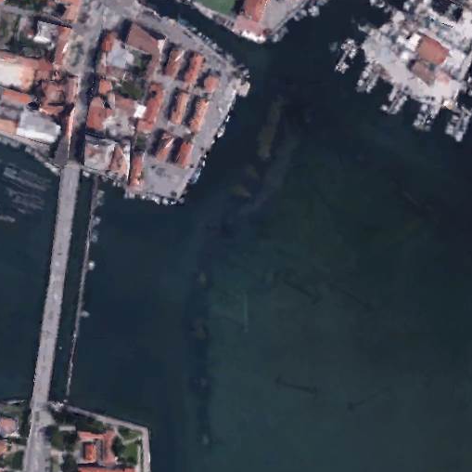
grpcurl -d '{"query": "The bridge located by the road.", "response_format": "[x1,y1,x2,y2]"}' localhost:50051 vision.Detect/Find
[30,162,79,404]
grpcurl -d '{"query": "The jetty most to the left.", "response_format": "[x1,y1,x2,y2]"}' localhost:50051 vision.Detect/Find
[66,178,96,401]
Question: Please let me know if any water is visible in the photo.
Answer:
Yes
